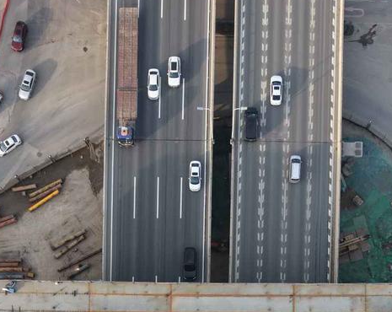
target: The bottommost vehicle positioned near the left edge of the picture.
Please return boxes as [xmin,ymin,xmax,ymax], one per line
[0,133,23,158]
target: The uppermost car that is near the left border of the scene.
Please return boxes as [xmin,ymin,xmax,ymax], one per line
[11,21,28,53]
